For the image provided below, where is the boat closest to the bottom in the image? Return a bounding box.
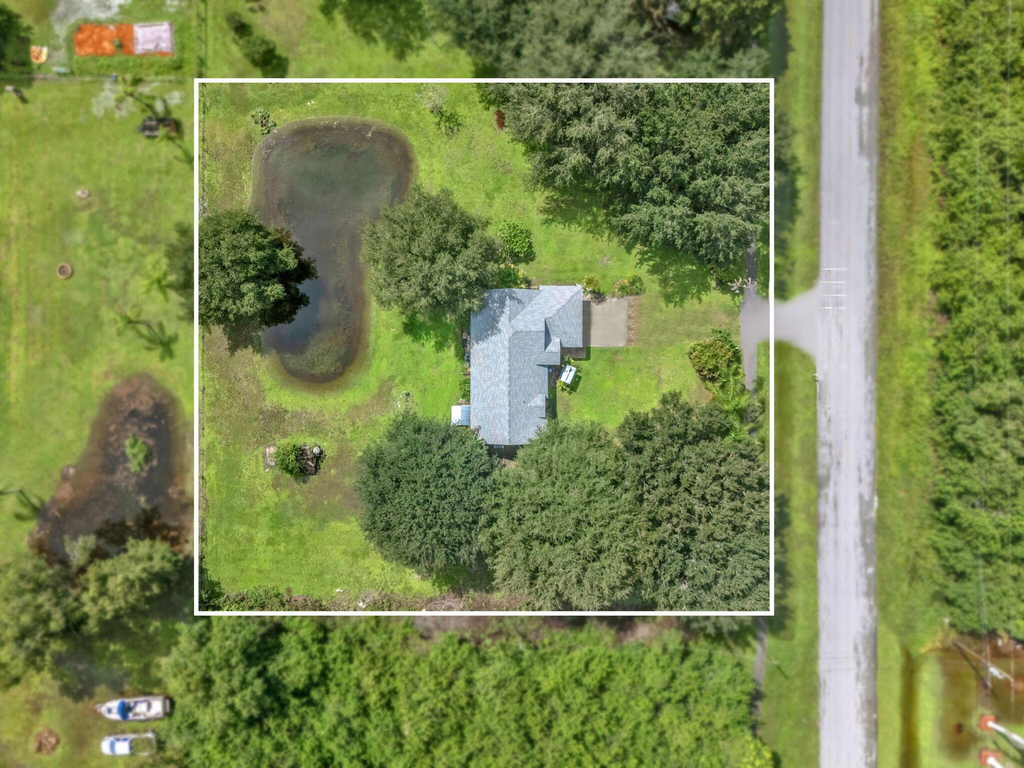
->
[101,730,158,755]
